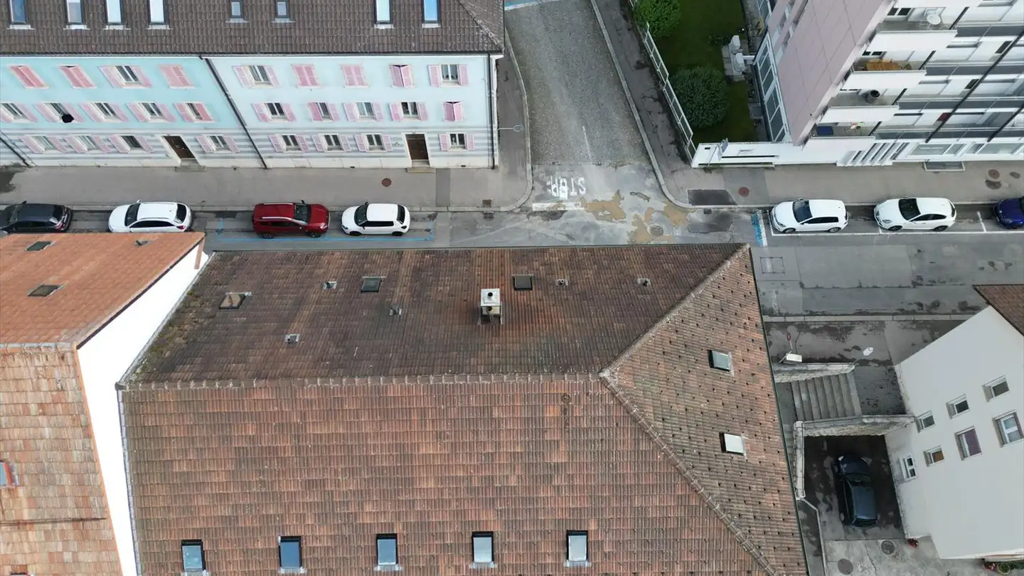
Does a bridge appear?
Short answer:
No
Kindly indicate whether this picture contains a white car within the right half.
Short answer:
Yes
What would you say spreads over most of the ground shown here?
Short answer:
buildings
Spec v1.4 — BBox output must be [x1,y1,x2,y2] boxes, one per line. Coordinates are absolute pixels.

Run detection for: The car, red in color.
[249,199,330,238]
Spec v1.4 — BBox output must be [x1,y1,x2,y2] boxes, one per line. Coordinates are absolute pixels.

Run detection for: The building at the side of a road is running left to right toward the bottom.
[111,242,811,576]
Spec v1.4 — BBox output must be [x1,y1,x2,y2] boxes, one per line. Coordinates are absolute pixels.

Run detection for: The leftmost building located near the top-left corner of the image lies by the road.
[0,0,263,174]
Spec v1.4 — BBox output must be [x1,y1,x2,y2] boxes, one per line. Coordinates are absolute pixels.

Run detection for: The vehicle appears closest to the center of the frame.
[341,199,410,236]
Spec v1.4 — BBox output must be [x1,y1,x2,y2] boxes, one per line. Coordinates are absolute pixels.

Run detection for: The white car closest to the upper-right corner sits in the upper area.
[873,196,960,234]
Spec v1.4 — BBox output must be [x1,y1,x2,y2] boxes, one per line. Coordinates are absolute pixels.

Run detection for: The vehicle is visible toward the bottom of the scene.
[830,458,877,530]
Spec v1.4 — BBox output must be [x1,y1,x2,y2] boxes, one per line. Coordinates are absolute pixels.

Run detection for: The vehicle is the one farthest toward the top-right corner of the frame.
[994,199,1024,232]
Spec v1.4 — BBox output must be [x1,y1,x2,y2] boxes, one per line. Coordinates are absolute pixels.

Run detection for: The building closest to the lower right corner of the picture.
[883,297,1024,560]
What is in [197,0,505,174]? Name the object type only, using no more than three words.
house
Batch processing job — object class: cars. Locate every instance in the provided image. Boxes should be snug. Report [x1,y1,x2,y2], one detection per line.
[873,196,960,234]
[830,458,877,530]
[249,199,330,238]
[769,195,847,233]
[341,199,410,236]
[994,199,1024,232]
[0,202,73,235]
[108,201,193,235]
